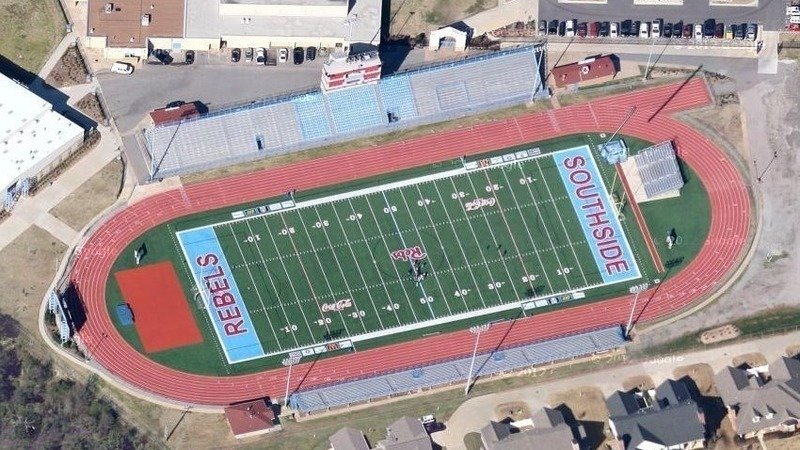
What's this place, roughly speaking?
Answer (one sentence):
This looks like a sports ground.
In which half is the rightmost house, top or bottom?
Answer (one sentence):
The bottom half of the photo is where the rightmost house is.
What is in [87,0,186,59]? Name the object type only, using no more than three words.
building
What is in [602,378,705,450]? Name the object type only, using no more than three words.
house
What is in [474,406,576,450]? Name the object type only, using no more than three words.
house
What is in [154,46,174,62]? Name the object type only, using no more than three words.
vehicle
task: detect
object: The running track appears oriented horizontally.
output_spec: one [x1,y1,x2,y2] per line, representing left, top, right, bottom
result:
[62,78,754,405]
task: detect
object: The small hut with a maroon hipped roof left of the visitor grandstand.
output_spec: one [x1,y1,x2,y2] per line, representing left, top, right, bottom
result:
[224,398,280,441]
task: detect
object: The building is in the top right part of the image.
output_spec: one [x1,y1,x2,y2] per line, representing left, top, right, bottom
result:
[550,56,620,94]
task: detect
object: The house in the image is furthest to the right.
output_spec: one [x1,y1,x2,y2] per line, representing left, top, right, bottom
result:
[712,355,800,441]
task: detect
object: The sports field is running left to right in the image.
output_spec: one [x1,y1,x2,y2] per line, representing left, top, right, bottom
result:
[103,131,713,377]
